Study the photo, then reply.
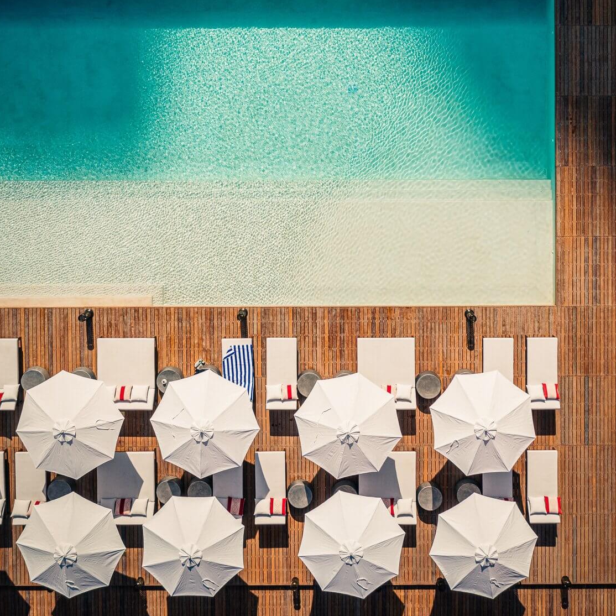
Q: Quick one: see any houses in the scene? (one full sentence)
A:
No, the picture doesn't show any house.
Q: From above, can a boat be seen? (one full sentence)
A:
No, this view has no boat in it.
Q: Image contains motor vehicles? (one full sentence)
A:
No, no motor vehicle is visible in the view.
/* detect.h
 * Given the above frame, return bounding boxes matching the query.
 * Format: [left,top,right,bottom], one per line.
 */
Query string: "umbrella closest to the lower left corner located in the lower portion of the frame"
[16,491,127,600]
